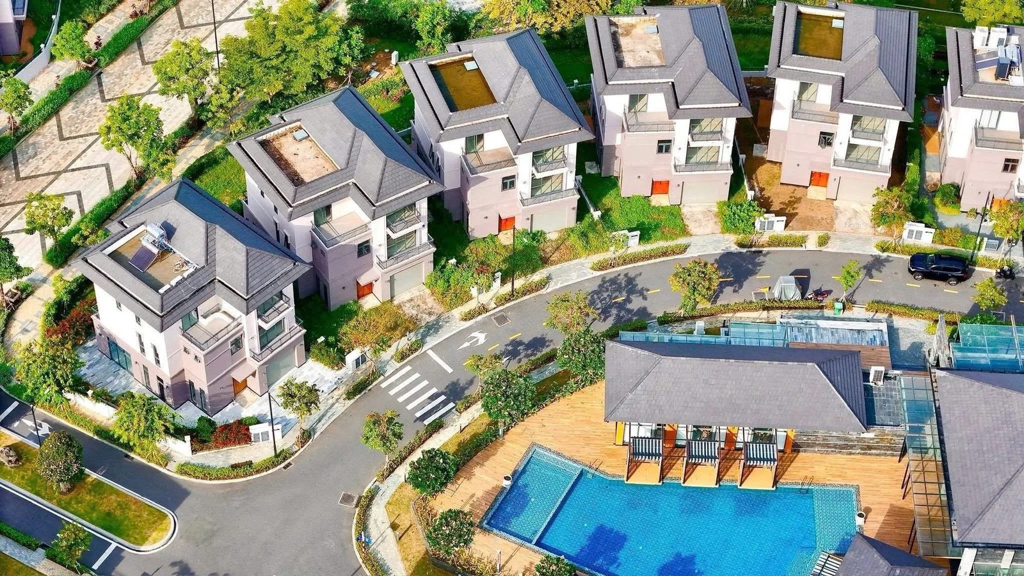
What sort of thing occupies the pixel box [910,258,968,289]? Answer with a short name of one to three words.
car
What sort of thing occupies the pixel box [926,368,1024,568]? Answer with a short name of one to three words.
building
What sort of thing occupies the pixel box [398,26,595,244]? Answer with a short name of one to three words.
house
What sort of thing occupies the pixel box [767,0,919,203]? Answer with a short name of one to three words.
house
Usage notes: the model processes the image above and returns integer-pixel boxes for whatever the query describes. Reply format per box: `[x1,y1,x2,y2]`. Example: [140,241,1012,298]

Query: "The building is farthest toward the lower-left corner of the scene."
[71,175,312,417]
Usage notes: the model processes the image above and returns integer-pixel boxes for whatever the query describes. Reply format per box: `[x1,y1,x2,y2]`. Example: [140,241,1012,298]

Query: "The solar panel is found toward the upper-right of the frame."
[973,48,1004,73]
